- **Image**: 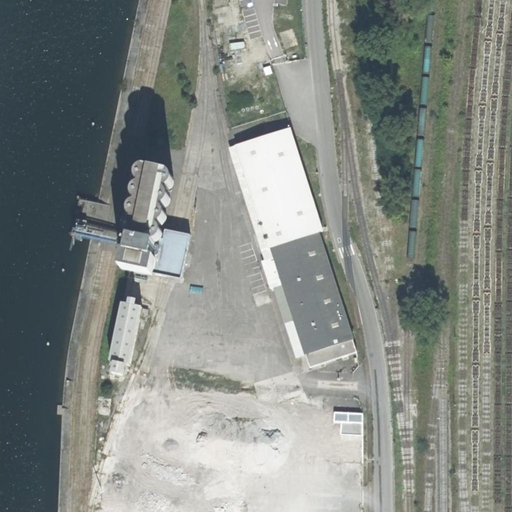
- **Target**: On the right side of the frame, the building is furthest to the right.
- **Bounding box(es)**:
[334,412,363,436]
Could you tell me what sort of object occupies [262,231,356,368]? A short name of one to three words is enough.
building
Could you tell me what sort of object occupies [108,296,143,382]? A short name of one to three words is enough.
building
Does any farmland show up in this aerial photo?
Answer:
No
